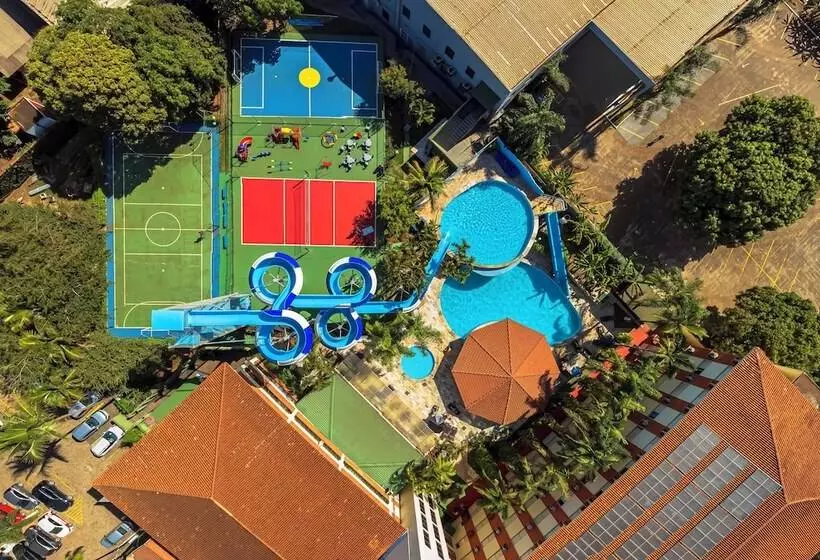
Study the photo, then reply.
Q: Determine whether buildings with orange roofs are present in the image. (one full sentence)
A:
Yes, there's a building with an orange roof down there.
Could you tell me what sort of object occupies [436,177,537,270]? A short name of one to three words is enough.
swimming pool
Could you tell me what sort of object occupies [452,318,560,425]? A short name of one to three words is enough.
building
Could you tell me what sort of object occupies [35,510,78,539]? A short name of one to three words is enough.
car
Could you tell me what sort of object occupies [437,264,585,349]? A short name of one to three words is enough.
swimming pool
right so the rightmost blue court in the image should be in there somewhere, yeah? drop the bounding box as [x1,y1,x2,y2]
[239,38,378,118]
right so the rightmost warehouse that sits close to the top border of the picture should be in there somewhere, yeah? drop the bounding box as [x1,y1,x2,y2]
[380,0,751,164]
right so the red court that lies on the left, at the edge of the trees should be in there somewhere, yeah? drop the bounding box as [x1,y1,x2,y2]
[241,177,376,246]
